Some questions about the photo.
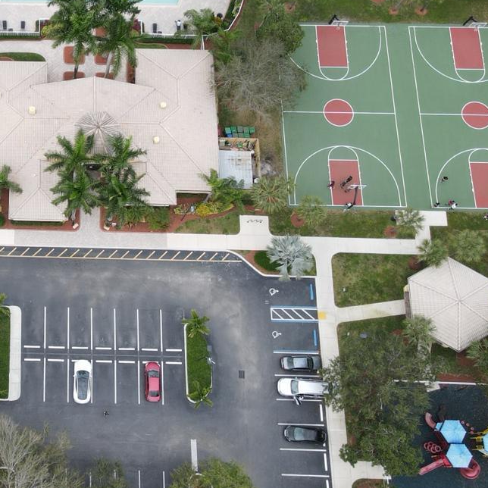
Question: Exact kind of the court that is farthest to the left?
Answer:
basketball court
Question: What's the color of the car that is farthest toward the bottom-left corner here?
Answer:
white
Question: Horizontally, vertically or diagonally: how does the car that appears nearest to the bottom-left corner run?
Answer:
vertically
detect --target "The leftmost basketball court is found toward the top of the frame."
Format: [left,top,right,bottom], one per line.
[270,20,419,212]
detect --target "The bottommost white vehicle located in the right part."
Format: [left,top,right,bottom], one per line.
[275,378,325,406]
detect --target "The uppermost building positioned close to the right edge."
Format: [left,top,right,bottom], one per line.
[394,257,488,353]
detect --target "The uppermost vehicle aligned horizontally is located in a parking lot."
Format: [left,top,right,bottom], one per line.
[278,353,321,373]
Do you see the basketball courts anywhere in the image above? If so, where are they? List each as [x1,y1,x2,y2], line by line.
[396,21,488,214]
[270,20,419,212]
